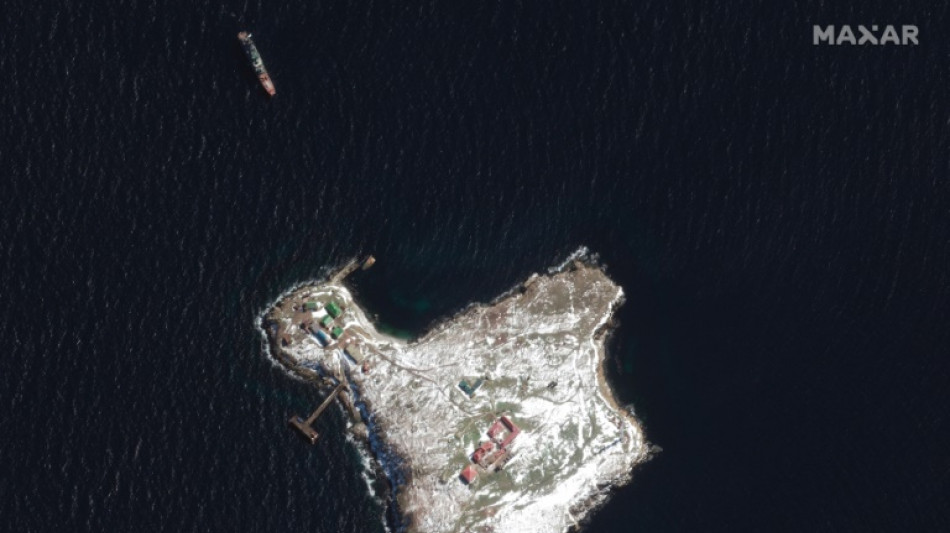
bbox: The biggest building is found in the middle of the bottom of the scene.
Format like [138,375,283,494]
[486,415,521,448]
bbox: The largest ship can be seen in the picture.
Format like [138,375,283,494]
[238,34,276,95]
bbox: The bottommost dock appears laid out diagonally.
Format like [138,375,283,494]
[289,382,345,439]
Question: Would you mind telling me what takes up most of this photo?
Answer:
water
